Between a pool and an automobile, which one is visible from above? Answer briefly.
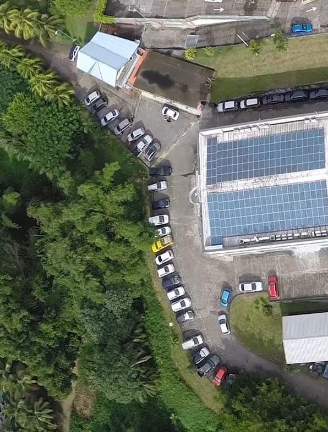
automobile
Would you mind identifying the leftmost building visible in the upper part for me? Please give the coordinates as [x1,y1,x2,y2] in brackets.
[77,32,140,87]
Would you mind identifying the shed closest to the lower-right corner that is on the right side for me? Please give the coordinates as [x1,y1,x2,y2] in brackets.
[283,311,328,364]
